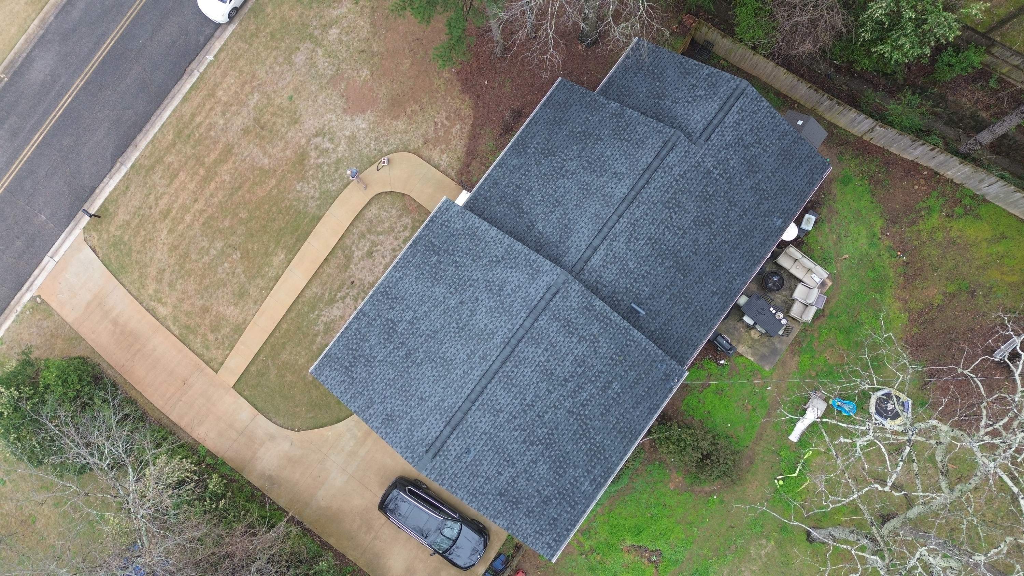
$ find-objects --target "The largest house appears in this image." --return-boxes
[307,35,834,564]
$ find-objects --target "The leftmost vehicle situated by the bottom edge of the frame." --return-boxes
[377,475,490,569]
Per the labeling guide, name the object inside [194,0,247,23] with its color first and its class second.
white car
